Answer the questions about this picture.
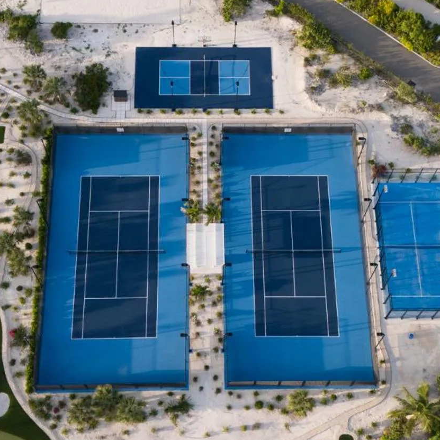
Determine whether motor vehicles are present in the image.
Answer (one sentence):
No, the photo shows no motor vehicle.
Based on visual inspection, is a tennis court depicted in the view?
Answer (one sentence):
Yes, there's a tennis court down there.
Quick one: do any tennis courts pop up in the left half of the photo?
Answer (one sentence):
Yes, the scene does show a tennis court in the left half of the photo.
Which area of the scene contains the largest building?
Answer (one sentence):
You can find the largest building in the center area of the picture.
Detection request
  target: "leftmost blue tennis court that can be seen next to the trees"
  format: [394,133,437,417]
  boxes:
[36,134,189,392]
